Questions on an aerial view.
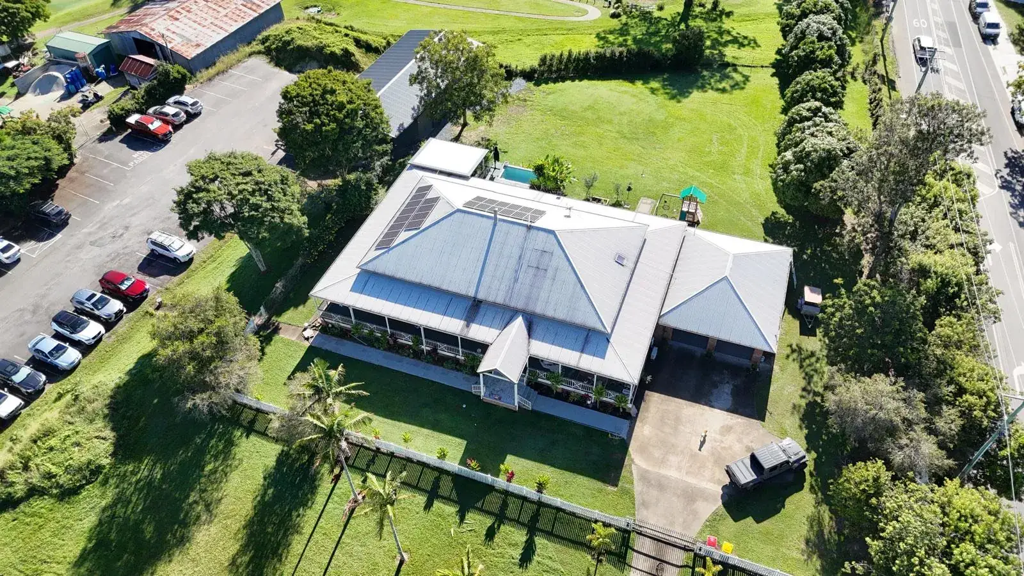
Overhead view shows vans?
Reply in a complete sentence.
Yes, this view includes a van.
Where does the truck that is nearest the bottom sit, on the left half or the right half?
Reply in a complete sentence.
The truck that is nearest the bottom appears in the right half of the scene.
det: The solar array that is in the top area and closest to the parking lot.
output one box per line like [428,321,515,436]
[373,185,442,251]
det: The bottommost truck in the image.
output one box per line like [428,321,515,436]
[721,439,816,496]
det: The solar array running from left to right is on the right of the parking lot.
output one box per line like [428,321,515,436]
[460,197,545,223]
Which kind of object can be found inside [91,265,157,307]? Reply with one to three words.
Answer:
car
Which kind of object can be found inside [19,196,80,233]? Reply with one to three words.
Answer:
car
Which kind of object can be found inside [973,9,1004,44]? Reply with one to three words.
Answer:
van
